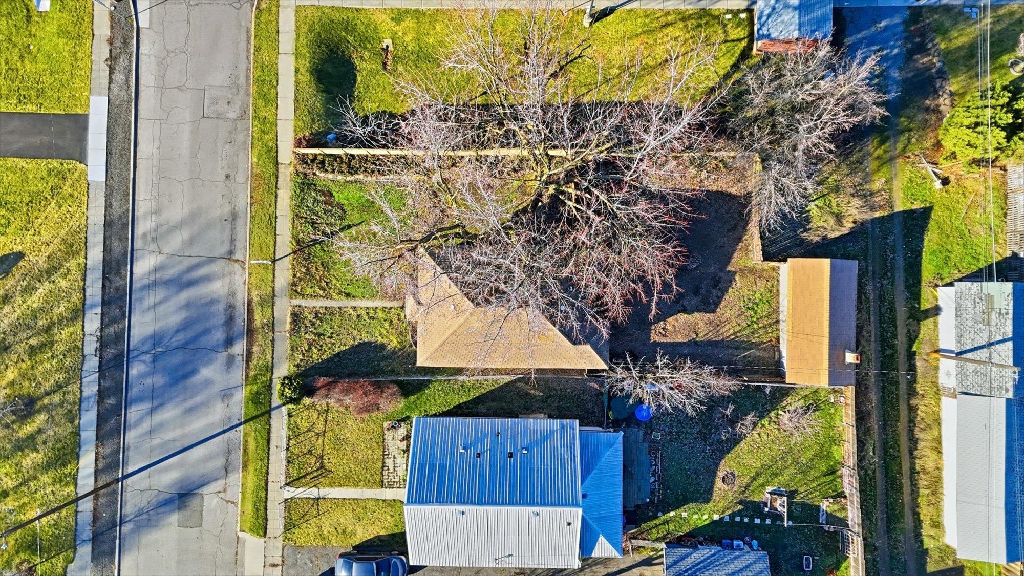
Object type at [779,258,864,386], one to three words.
building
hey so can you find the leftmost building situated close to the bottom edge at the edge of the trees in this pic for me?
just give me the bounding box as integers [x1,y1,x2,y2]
[403,415,624,569]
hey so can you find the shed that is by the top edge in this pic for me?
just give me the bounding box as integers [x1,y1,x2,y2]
[753,0,833,53]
